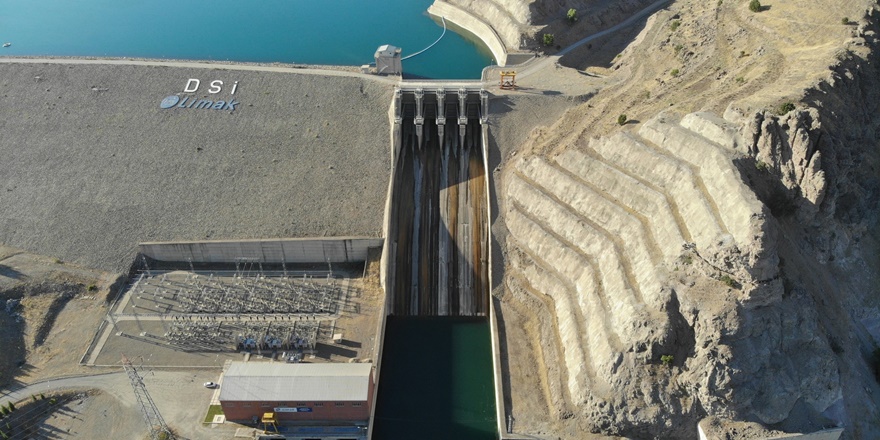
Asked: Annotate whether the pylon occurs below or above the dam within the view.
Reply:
below it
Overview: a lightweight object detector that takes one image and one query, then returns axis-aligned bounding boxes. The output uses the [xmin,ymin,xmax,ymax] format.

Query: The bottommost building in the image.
[217,360,374,430]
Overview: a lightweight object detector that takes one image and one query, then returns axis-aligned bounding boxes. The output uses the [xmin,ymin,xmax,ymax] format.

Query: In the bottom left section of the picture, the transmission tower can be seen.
[115,358,174,440]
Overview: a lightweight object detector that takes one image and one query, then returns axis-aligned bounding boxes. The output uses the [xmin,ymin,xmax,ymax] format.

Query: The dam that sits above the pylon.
[0,54,398,284]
